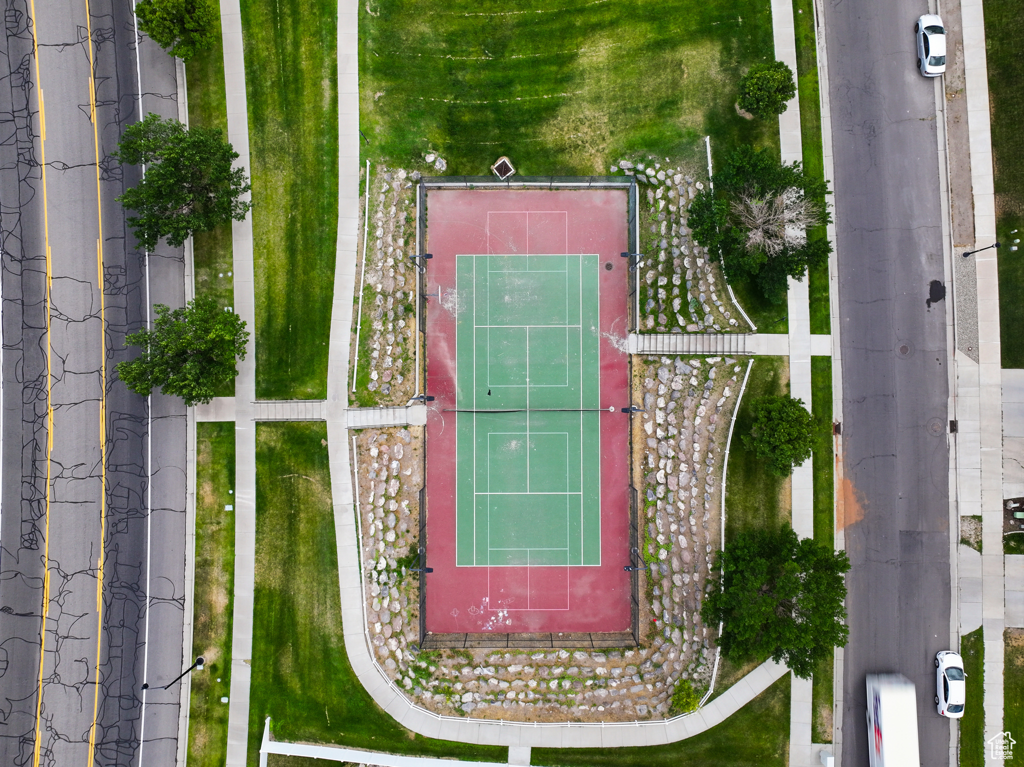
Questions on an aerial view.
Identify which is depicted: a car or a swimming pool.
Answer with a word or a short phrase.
car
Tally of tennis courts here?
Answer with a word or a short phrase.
1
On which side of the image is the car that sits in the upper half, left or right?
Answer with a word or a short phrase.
right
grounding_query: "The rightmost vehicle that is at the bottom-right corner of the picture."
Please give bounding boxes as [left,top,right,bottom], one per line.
[932,650,970,717]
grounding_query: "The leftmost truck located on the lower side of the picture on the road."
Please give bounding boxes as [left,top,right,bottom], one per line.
[865,670,919,767]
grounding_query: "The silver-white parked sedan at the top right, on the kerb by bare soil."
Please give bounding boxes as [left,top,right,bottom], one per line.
[912,15,949,80]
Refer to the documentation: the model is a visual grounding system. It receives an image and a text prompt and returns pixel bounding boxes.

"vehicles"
[865,670,919,767]
[932,650,970,717]
[912,15,949,80]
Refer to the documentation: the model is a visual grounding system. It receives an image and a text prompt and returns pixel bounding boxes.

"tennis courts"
[426,190,631,633]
